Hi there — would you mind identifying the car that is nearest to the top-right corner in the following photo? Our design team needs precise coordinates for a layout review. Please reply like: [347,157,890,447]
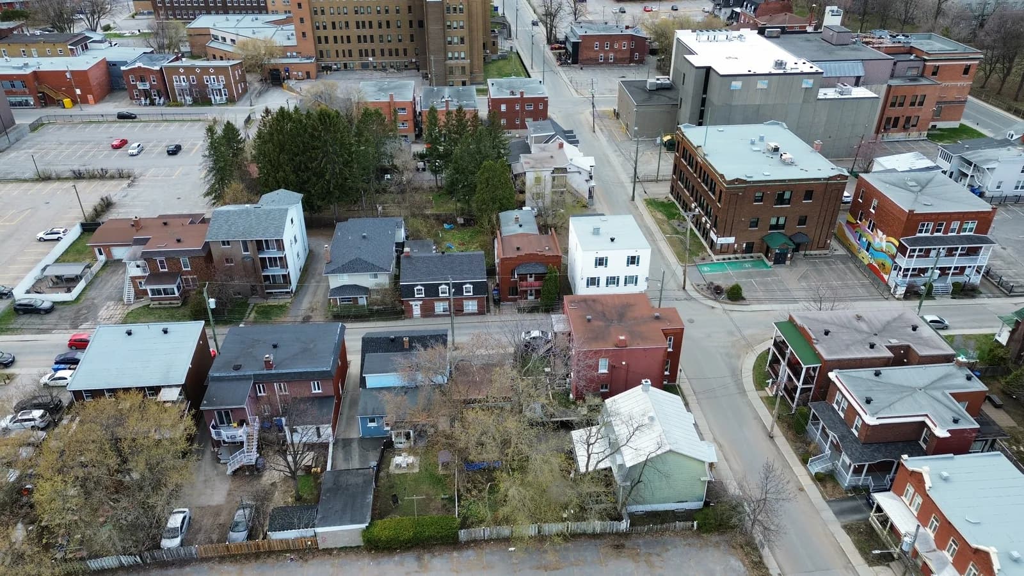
[843,190,855,202]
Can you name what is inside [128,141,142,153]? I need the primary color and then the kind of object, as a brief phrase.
white vehicle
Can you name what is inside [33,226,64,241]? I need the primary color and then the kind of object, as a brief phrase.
white car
